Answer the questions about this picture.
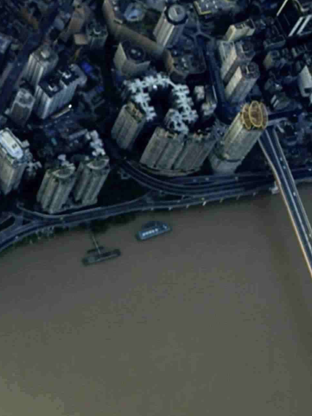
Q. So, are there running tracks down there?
No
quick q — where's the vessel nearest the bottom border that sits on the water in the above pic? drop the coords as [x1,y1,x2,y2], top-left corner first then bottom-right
[83,248,121,265]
